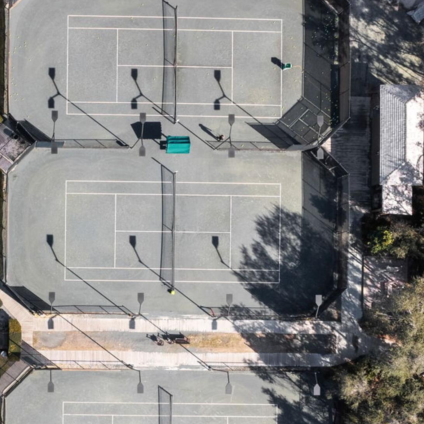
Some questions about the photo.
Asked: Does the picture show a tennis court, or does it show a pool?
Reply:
tennis court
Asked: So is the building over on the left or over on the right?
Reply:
right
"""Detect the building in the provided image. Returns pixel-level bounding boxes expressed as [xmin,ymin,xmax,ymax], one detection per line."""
[368,85,424,215]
